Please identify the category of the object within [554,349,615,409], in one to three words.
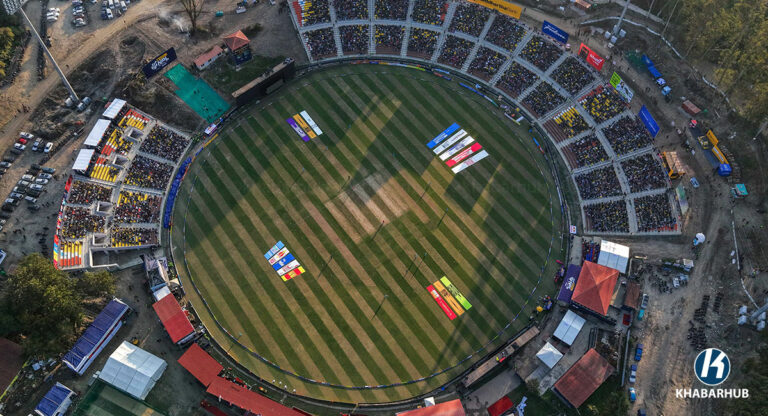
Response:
building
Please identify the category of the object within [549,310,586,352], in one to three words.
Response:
tent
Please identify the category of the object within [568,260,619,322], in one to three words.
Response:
building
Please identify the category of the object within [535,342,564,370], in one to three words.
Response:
gazebo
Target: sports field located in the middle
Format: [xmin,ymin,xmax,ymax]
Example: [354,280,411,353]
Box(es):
[171,61,570,403]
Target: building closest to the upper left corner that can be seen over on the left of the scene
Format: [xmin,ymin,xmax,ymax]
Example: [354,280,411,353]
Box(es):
[194,45,224,71]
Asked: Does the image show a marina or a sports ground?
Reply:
sports ground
